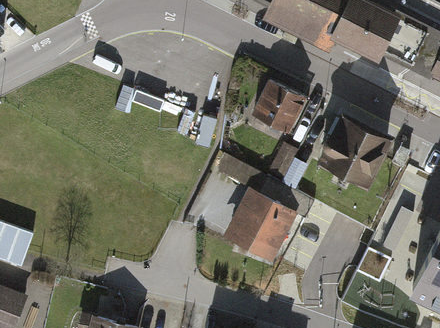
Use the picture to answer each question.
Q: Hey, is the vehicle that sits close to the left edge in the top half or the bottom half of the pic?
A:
top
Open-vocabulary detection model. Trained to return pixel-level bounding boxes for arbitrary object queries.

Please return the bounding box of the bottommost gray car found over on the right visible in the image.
[298,225,322,243]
